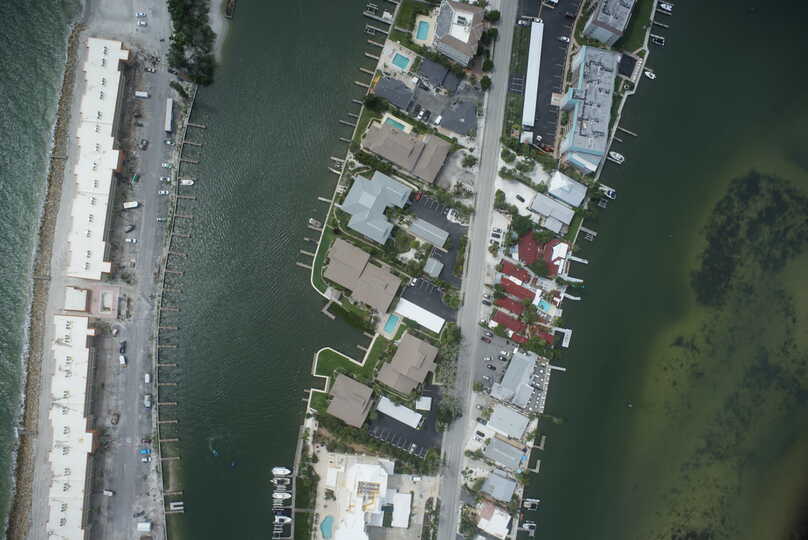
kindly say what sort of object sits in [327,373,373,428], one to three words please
house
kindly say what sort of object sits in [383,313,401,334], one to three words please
swimming pool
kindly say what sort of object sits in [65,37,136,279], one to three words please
building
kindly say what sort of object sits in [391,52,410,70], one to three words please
swimming pool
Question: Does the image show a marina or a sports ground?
marina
